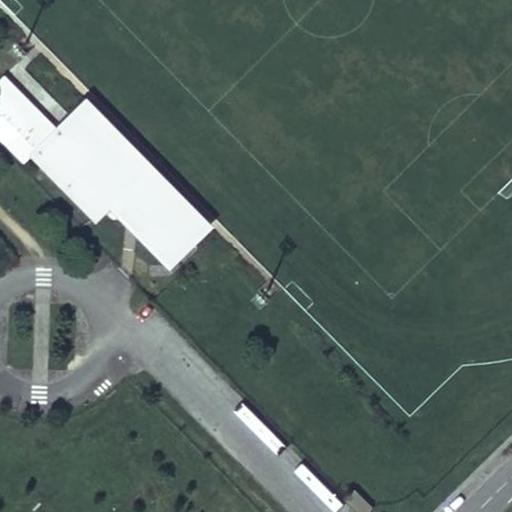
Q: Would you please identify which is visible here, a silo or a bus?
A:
bus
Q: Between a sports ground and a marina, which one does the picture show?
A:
sports ground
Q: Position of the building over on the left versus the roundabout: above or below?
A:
above it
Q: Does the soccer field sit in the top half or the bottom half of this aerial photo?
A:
top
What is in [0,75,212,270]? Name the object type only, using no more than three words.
building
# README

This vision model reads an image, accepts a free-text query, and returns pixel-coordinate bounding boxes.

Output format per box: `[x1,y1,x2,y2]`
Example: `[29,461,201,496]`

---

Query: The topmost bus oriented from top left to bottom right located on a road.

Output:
[234,402,288,457]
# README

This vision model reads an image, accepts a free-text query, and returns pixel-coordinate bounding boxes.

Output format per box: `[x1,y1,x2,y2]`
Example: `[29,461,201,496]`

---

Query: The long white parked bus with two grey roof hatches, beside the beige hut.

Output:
[294,462,346,512]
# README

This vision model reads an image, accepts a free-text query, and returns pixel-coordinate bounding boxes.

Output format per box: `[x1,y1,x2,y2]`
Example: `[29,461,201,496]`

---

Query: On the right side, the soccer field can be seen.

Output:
[104,0,512,298]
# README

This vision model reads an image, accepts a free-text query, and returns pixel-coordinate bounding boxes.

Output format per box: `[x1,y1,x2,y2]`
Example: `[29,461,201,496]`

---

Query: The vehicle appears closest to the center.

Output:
[137,302,154,322]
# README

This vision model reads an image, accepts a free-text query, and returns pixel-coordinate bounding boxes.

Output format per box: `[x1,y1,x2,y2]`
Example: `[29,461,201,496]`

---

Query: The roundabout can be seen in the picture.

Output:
[0,257,151,410]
